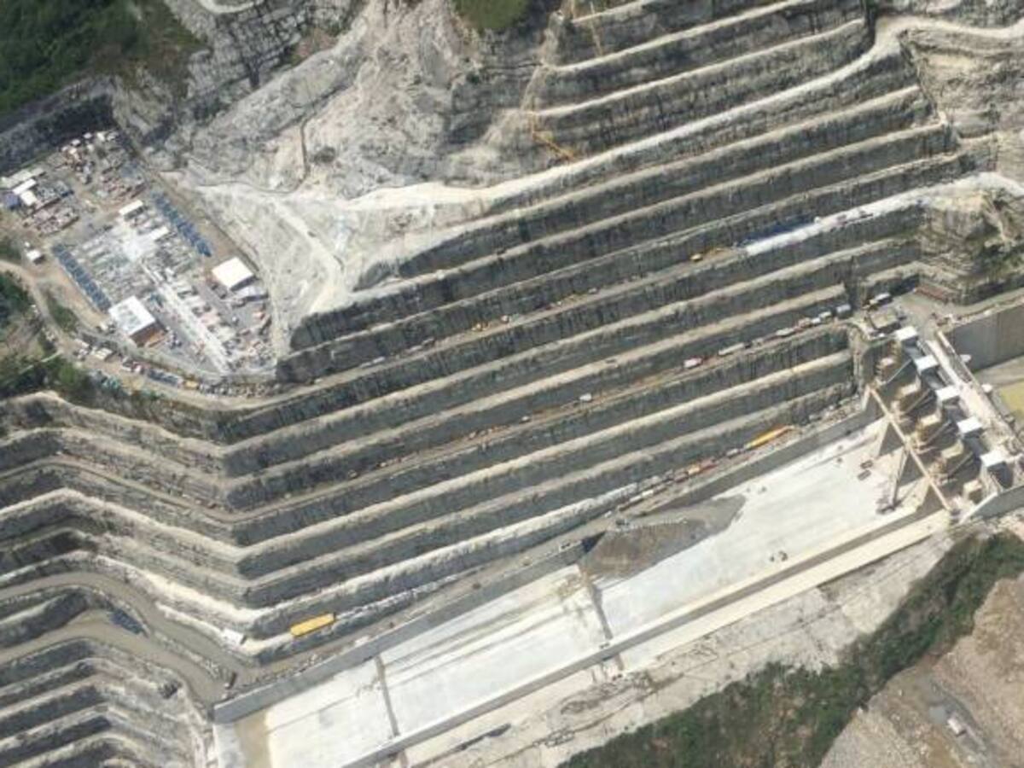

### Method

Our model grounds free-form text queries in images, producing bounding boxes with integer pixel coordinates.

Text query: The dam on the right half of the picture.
[852,329,1024,539]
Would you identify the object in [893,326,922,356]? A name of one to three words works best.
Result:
building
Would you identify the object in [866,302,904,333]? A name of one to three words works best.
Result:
shed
